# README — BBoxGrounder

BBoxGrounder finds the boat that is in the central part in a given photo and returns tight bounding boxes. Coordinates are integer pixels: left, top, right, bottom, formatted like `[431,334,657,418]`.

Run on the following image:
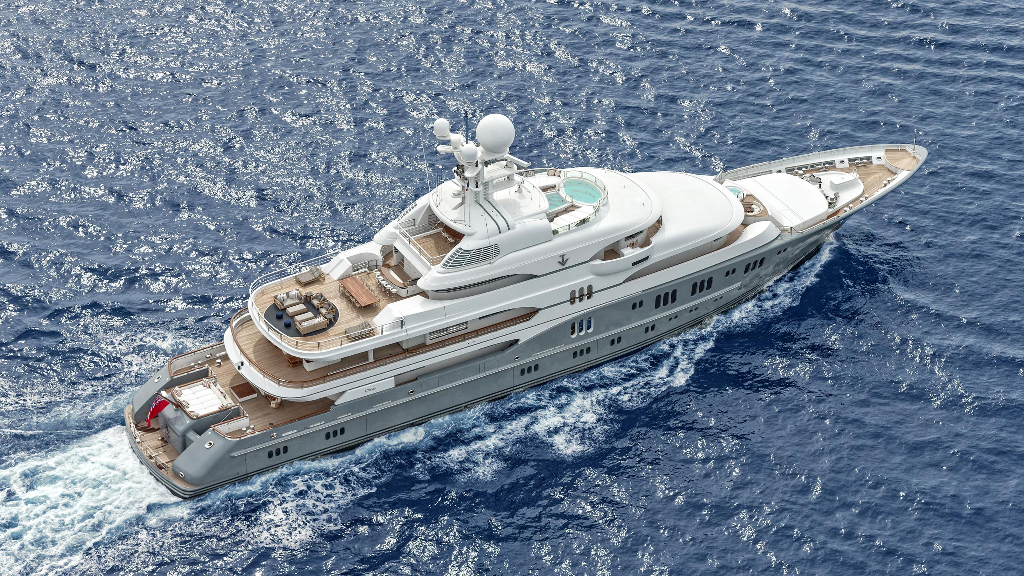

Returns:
[122,108,928,496]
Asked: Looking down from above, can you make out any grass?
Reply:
No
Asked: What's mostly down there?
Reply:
water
